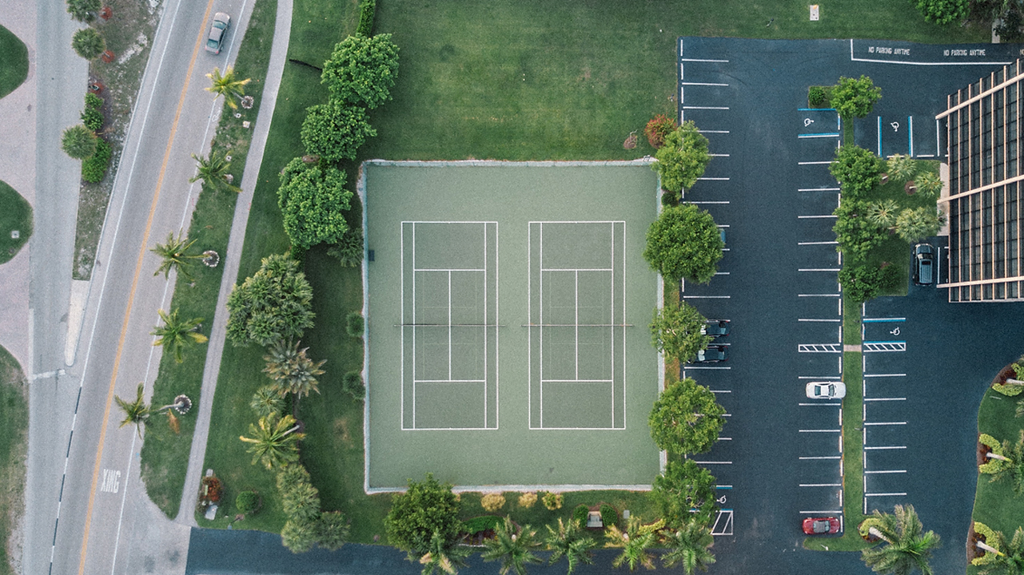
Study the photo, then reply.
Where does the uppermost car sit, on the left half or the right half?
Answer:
left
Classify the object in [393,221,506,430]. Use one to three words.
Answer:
tennis court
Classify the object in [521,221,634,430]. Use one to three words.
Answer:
tennis court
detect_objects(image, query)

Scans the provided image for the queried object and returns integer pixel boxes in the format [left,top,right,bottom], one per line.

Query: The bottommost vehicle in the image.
[803,519,840,537]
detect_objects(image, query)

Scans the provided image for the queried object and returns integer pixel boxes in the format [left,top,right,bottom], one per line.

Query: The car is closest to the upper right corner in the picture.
[914,243,937,285]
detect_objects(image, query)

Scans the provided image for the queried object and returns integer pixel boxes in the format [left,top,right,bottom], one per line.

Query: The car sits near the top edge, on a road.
[201,10,229,53]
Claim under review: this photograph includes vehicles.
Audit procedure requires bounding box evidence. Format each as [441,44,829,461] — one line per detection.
[803,519,840,537]
[686,345,729,364]
[688,319,730,338]
[201,10,229,53]
[807,381,847,401]
[914,243,937,285]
